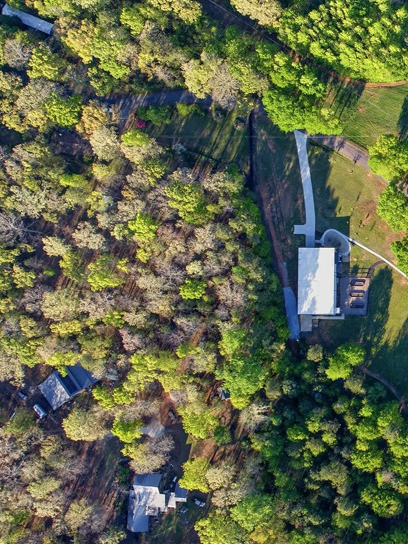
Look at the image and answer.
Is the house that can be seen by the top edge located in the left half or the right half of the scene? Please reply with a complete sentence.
The house that can be seen by the top edge is on the left side of the image.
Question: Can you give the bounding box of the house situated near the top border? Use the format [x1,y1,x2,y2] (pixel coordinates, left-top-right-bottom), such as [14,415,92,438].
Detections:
[2,4,57,37]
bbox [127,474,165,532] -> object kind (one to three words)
house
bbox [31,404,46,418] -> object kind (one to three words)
vehicle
